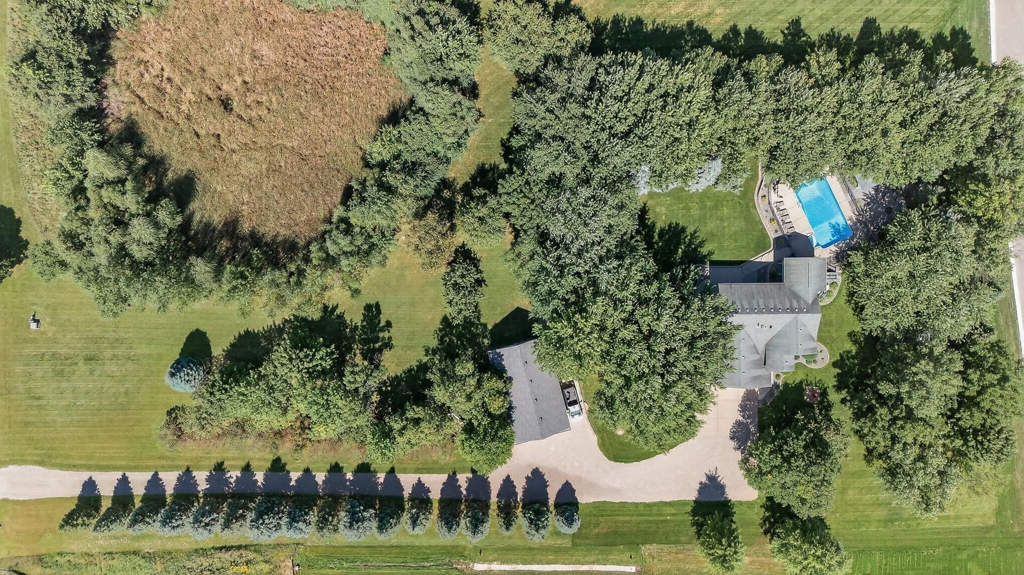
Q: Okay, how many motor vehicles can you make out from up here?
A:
1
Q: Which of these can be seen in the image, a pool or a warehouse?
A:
pool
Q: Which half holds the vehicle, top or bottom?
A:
bottom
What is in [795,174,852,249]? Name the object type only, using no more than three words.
swimming pool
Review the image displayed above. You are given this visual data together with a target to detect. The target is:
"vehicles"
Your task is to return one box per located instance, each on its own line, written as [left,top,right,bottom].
[563,386,583,424]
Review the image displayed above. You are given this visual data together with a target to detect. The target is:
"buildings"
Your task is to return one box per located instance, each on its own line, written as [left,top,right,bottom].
[707,257,827,389]
[488,338,572,445]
